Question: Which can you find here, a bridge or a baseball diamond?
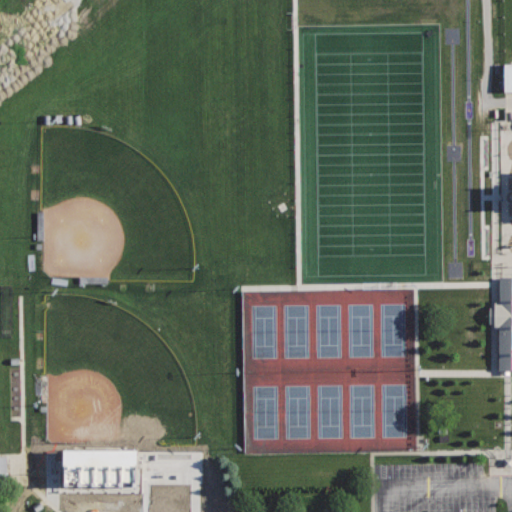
baseball diamond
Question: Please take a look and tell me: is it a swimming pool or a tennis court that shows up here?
tennis court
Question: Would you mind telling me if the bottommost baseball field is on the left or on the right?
left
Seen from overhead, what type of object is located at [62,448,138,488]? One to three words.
building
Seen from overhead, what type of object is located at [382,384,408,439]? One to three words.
tennis court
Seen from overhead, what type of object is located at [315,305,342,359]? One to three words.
tennis court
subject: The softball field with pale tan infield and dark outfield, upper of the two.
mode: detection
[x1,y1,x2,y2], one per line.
[42,126,194,282]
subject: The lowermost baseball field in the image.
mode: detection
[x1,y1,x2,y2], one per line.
[46,296,196,444]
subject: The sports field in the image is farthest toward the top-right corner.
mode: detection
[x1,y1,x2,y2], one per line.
[300,24,444,284]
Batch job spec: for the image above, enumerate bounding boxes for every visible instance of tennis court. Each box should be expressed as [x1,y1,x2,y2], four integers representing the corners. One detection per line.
[252,386,279,440]
[348,385,376,439]
[317,385,344,440]
[315,305,342,359]
[382,384,408,439]
[284,305,311,360]
[284,386,312,440]
[380,304,408,358]
[348,304,374,359]
[251,306,278,360]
